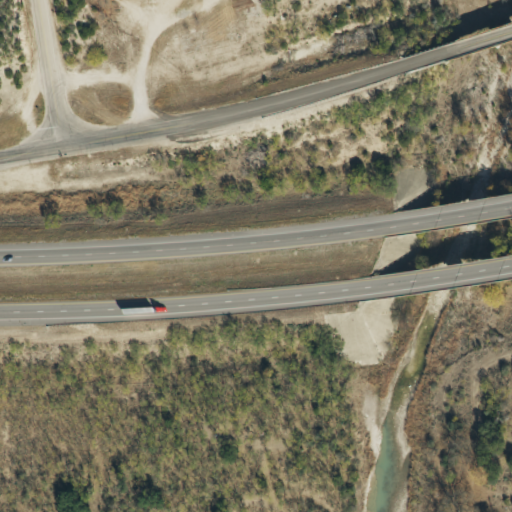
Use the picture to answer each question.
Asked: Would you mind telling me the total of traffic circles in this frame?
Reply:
0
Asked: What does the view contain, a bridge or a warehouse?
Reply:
bridge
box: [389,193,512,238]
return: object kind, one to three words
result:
bridge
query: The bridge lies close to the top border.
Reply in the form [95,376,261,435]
[405,21,512,72]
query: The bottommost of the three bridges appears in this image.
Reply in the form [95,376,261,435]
[366,254,512,301]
